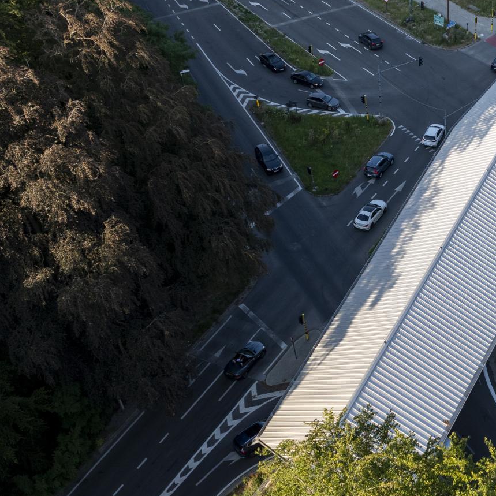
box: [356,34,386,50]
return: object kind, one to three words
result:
car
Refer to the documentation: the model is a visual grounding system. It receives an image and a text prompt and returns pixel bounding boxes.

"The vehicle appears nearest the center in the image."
[253,146,283,174]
